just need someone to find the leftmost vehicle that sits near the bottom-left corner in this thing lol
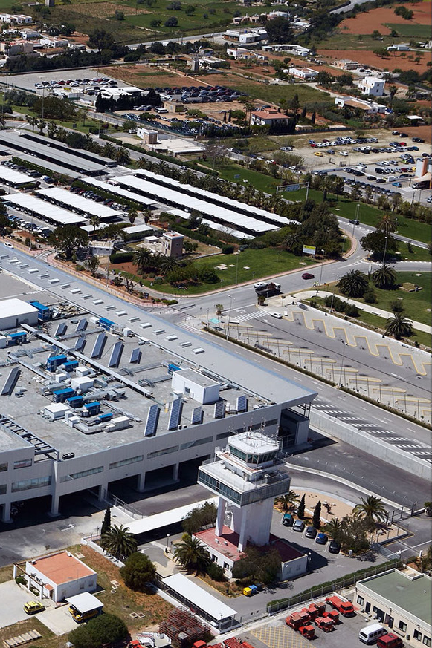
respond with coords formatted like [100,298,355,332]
[21,598,48,614]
